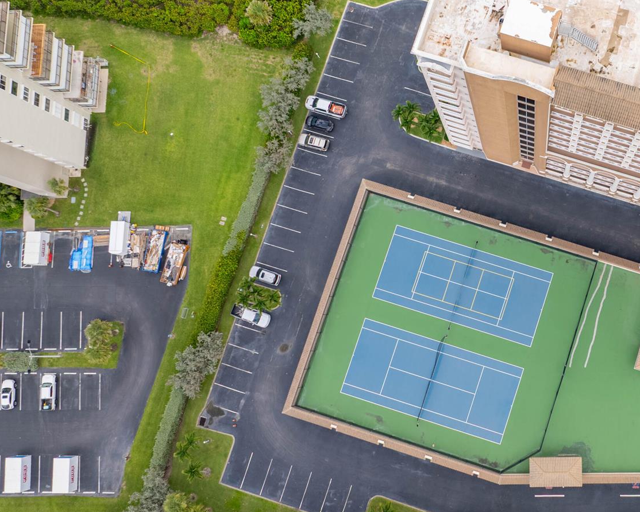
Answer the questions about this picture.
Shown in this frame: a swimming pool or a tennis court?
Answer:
tennis court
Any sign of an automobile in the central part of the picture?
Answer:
Yes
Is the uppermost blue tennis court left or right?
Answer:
right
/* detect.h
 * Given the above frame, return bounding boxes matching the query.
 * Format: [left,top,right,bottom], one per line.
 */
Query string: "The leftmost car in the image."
[0,378,18,412]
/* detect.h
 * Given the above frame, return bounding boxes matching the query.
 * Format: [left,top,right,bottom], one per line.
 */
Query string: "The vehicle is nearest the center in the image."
[249,266,283,286]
